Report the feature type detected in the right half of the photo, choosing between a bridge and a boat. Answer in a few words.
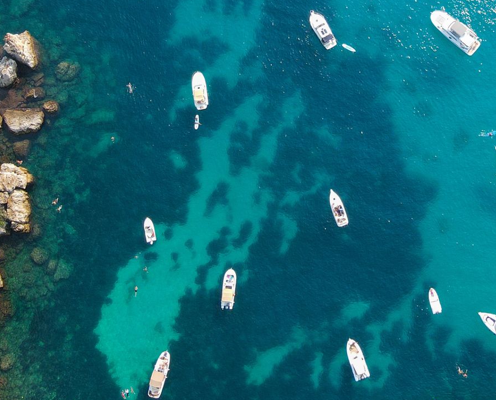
boat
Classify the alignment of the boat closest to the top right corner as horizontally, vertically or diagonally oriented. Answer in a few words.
diagonally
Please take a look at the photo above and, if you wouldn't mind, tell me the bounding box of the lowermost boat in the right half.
[347,337,370,383]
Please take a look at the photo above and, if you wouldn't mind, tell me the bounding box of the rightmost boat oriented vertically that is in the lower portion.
[428,287,443,315]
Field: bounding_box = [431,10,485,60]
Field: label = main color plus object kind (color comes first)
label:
white boat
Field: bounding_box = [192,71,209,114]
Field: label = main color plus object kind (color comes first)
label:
white boat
